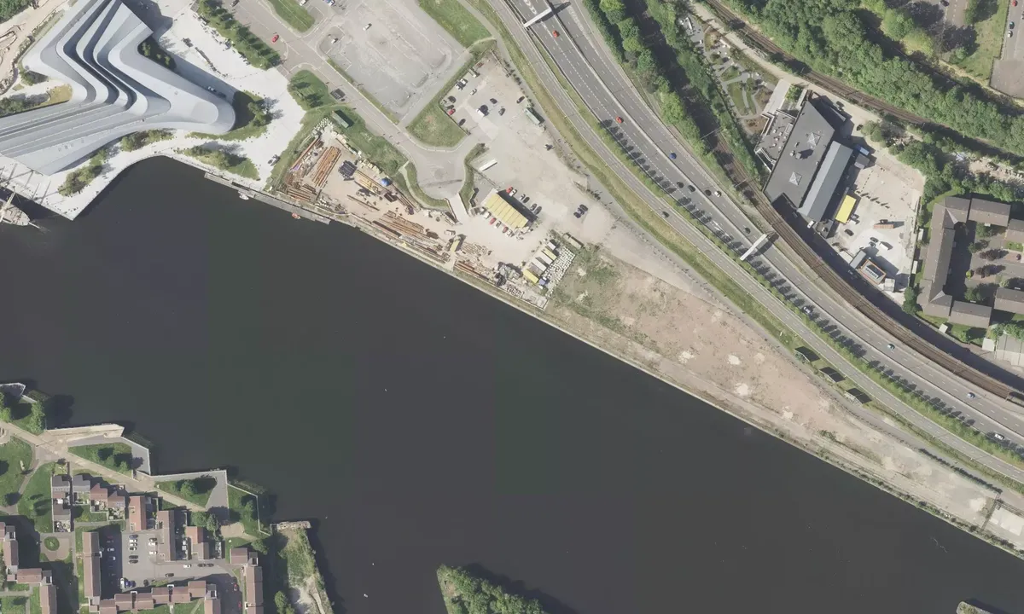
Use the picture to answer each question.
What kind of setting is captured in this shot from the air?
port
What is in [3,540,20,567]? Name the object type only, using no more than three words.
house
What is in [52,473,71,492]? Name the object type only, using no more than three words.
house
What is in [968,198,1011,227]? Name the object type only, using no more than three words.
building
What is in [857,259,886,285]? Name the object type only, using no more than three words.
building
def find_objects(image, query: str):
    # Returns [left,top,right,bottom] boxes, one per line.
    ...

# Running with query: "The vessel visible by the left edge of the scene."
[0,191,38,228]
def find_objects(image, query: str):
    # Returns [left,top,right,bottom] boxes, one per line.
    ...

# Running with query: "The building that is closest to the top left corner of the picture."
[0,0,235,175]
